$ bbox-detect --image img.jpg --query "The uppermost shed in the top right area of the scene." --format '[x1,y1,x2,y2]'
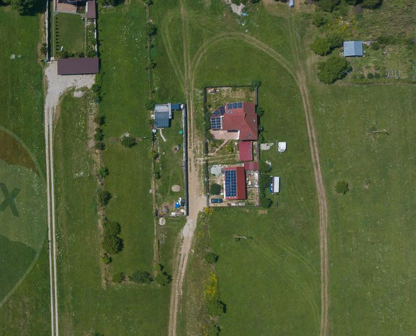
[341,41,363,57]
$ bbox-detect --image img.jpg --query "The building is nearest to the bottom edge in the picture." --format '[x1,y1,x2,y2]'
[221,167,246,200]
